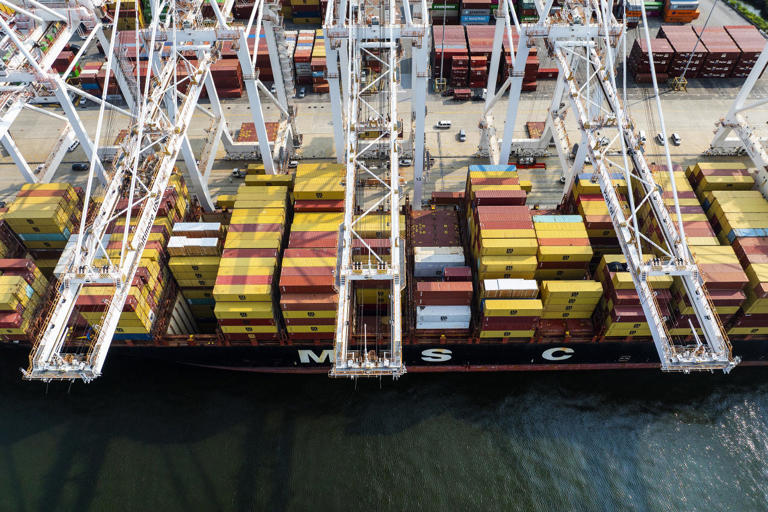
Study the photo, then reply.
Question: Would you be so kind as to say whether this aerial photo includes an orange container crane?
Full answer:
No, there appears to be no orange container crane in this shot.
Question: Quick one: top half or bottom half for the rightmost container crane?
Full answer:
The rightmost container crane is in the top half of the image.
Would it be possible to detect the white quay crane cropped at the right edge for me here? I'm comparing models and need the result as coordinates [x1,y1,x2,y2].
[708,41,768,166]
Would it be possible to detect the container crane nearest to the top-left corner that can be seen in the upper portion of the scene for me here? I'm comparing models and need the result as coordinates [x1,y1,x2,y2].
[0,0,159,206]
